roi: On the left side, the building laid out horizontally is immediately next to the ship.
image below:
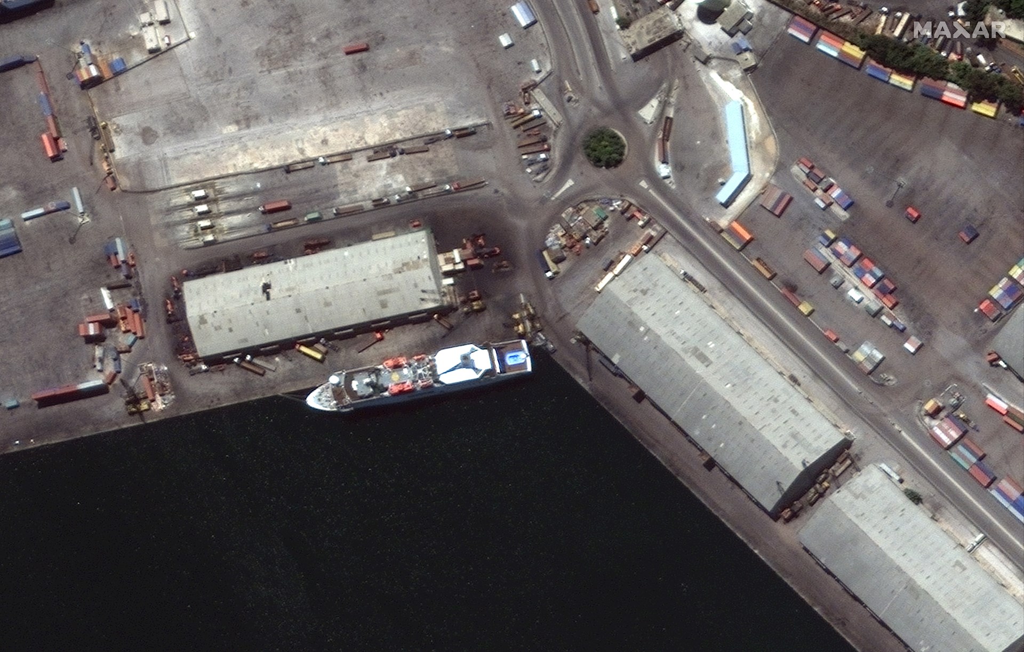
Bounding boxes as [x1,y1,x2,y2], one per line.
[183,230,449,360]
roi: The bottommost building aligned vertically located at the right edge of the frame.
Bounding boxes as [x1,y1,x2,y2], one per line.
[986,304,1024,385]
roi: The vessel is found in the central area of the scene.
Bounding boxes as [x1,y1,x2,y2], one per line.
[306,340,533,412]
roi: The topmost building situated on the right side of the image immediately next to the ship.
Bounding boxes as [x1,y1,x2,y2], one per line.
[575,252,854,519]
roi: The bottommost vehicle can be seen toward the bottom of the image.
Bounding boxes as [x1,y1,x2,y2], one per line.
[970,534,986,552]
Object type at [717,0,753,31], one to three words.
house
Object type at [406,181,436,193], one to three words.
vehicle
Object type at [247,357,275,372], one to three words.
vehicle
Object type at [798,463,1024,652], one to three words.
warehouse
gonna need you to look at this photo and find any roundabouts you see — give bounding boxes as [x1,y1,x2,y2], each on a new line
[566,109,645,188]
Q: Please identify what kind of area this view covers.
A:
port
